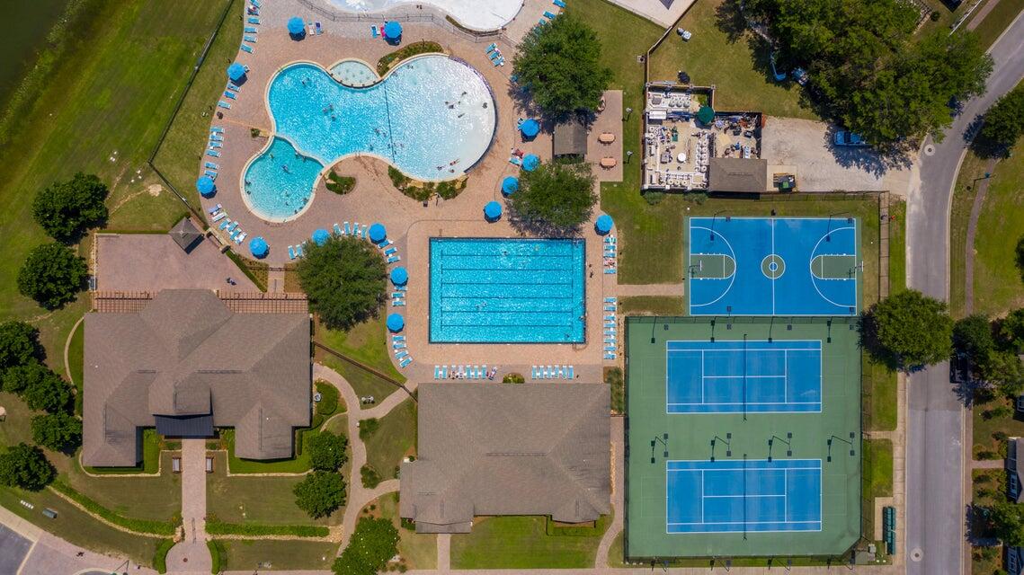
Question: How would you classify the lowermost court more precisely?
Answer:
tennis court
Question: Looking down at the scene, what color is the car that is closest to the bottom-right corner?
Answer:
black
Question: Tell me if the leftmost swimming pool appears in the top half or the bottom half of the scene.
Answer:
top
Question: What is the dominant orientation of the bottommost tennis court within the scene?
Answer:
horizontally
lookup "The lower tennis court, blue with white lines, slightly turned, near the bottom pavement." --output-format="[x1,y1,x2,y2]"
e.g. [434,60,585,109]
[642,456,846,540]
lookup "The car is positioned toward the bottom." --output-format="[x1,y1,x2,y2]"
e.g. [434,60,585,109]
[948,348,968,383]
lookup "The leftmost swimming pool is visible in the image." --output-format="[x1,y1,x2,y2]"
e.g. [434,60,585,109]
[240,136,324,223]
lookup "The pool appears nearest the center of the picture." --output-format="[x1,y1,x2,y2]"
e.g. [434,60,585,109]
[429,234,587,346]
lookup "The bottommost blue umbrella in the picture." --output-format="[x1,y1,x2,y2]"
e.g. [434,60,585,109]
[387,314,404,331]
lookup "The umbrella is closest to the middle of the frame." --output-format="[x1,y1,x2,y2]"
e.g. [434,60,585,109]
[485,202,502,219]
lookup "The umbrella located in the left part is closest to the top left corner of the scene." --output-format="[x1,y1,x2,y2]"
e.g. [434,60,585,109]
[228,63,245,80]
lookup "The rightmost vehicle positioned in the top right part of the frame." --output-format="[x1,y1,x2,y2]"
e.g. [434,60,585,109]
[832,130,873,146]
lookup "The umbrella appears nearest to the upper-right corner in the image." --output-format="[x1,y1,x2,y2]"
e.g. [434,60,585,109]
[697,106,714,124]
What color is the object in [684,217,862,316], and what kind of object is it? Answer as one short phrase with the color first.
blue basketball court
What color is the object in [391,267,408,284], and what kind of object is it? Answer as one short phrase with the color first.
blue umbrella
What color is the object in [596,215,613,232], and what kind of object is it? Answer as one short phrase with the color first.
blue umbrella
